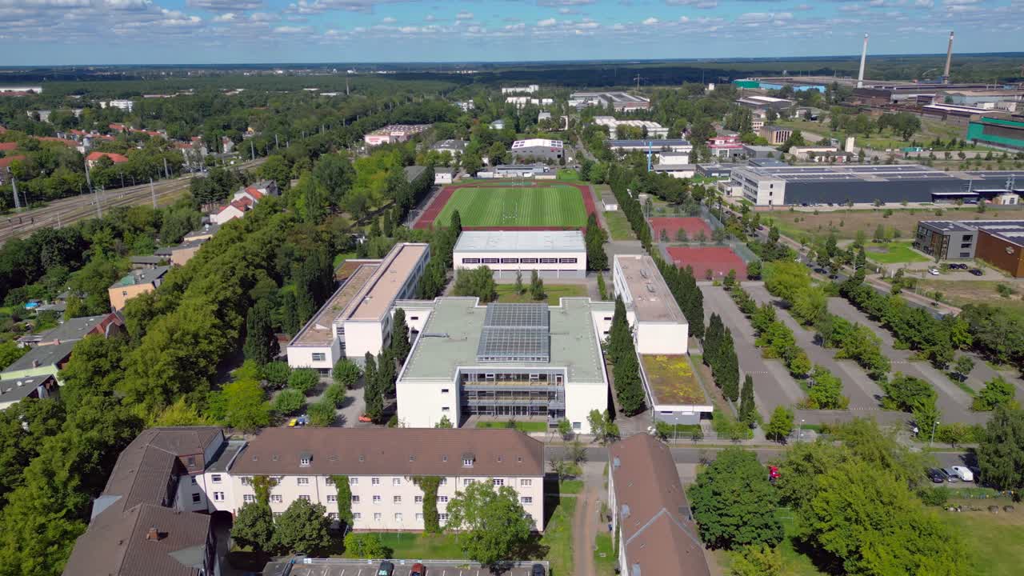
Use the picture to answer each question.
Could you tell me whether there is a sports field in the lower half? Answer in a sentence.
No, looking in the lower half, there is no sports field.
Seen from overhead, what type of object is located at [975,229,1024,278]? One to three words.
building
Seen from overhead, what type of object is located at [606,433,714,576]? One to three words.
building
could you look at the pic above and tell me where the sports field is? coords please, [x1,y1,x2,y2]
[405,180,614,233]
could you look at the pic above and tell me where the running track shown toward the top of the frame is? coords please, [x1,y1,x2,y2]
[405,180,614,233]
